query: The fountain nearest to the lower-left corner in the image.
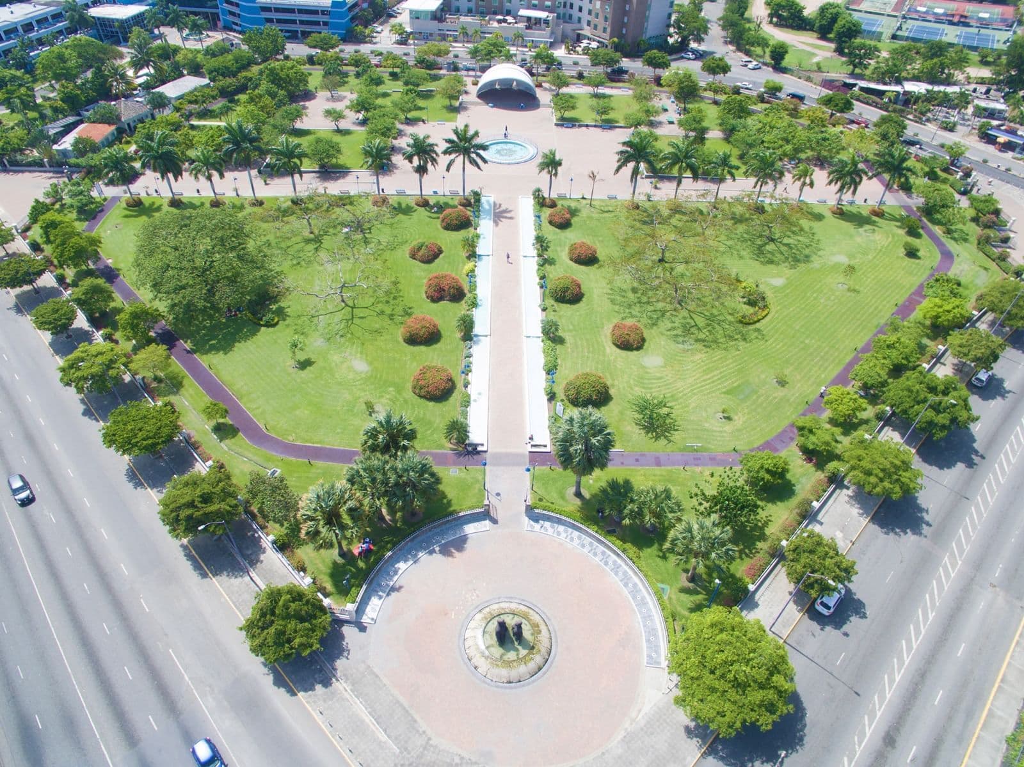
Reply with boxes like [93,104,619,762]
[457,593,558,689]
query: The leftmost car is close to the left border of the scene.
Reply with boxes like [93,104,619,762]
[2,467,37,508]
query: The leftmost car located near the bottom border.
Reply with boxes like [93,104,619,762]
[187,730,230,767]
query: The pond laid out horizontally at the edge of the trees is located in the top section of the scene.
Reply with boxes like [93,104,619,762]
[475,135,542,165]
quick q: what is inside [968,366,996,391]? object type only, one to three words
car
